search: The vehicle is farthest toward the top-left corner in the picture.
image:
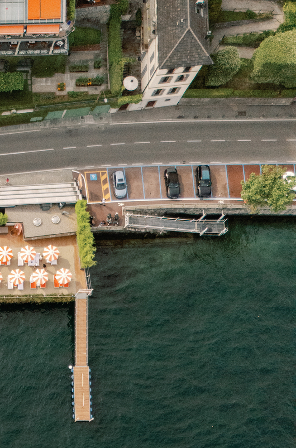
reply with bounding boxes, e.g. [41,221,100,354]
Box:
[111,171,129,199]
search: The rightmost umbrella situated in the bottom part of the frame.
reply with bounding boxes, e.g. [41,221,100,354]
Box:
[54,269,73,286]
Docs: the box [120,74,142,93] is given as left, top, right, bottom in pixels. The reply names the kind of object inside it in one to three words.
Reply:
umbrella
